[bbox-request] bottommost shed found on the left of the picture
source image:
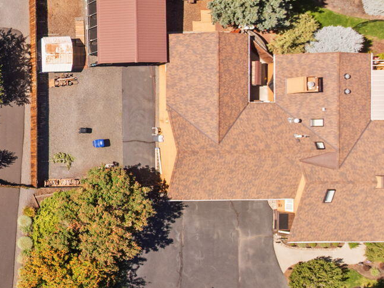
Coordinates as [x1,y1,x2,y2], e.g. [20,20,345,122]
[38,35,72,72]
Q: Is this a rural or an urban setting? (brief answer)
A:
urban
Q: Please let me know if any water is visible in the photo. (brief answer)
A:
No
